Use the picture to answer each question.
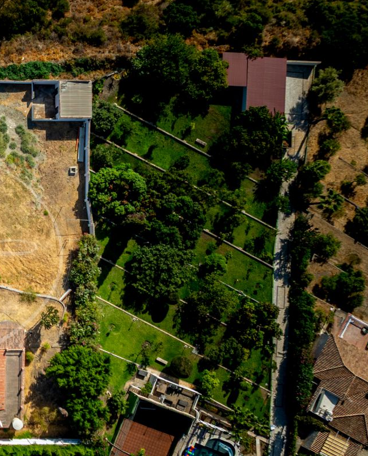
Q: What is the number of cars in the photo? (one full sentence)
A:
The photo contains no cars.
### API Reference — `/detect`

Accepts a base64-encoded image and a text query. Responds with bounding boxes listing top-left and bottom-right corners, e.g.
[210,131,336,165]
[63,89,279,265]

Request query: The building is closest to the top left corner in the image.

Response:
[28,81,93,125]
